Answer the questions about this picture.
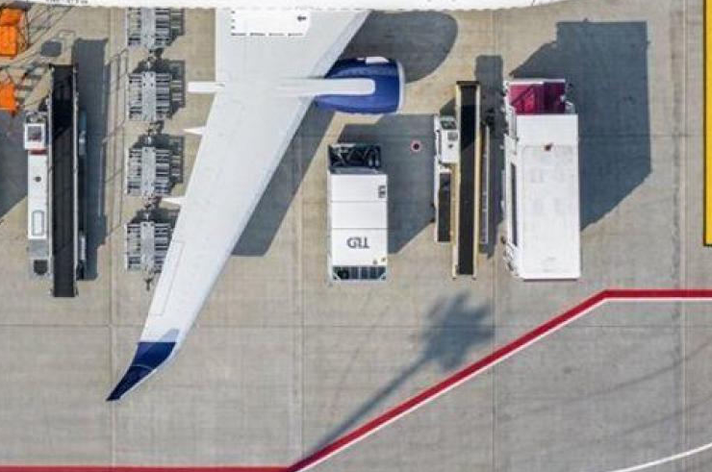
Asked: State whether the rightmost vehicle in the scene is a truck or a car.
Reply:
truck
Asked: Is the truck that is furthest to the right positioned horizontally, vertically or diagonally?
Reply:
vertically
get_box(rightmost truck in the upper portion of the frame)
[490,71,579,280]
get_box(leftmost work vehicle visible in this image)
[25,62,88,300]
